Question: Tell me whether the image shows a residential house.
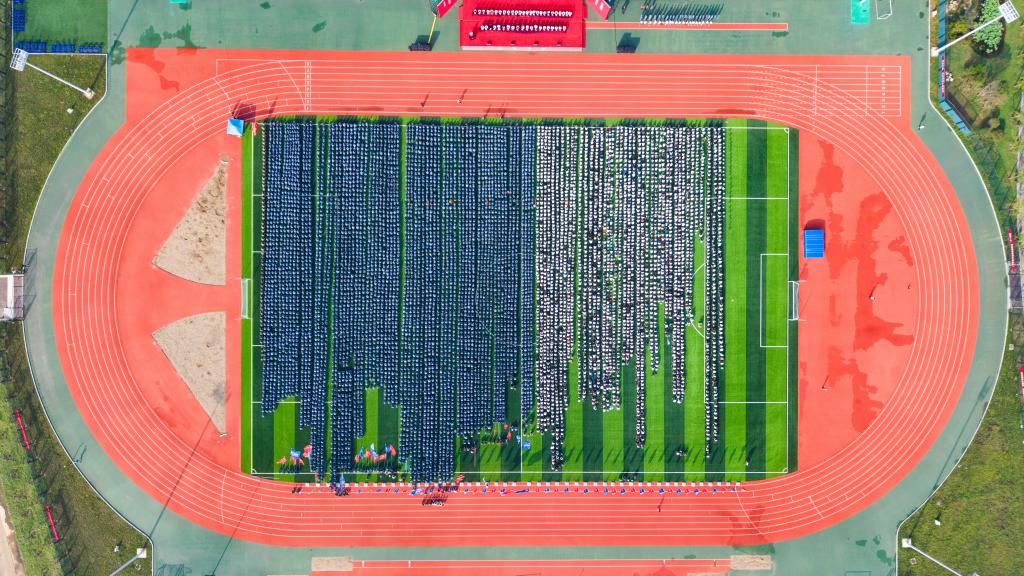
No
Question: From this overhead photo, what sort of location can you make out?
sports ground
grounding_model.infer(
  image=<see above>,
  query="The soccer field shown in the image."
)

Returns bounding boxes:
[241,114,799,483]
